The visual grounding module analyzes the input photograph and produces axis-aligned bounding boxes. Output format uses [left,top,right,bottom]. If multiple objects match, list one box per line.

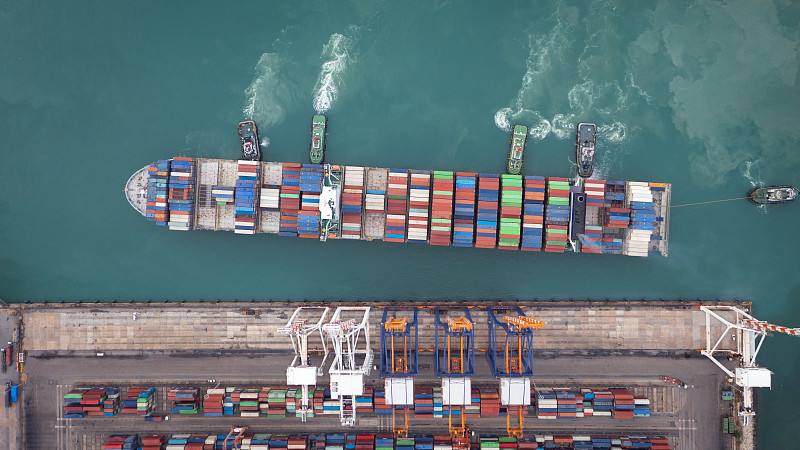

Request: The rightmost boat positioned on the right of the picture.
[748,185,800,205]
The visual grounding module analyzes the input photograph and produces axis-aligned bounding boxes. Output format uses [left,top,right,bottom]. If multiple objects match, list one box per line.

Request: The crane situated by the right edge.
[691,306,800,426]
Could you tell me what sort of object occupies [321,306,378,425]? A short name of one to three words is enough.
container crane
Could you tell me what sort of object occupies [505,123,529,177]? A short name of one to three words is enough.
boat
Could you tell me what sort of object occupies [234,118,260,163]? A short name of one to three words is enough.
boat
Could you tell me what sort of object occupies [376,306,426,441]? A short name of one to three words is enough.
container crane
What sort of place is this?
port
